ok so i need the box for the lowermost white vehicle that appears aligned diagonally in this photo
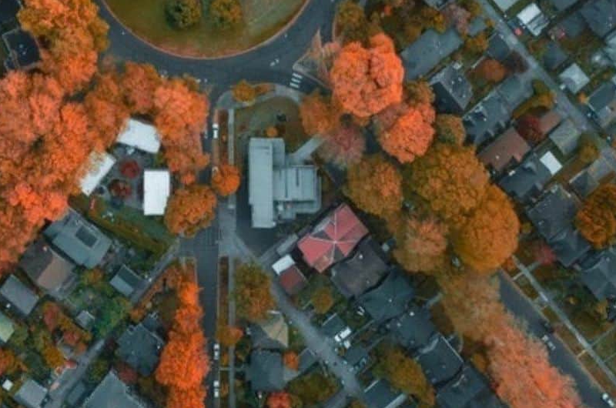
[602,392,615,407]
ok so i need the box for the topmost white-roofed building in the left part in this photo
[117,116,161,154]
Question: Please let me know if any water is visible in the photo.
No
